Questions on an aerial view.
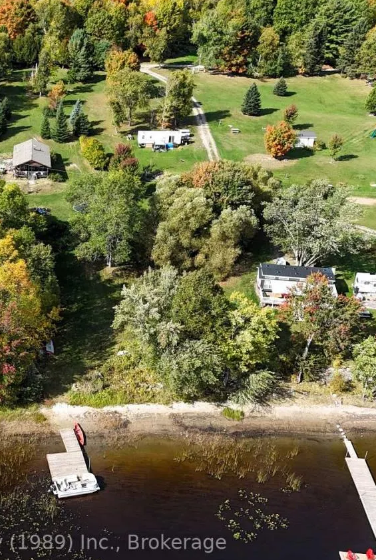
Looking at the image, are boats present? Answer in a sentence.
Yes, a boat can be made out from above.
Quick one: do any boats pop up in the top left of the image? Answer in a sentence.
No, the scene shows no boat in the top left of the image.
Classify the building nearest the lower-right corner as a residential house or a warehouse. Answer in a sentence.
The building nearest the lower-right corner is a residential house.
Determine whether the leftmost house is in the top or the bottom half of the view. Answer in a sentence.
The leftmost house sits in the top half of the picture.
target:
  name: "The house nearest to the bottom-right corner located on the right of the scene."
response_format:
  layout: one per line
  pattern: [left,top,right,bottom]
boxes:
[256,264,347,315]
